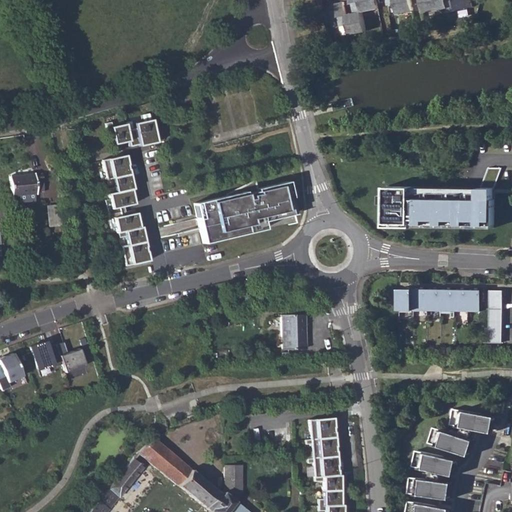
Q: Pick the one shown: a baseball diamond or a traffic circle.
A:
traffic circle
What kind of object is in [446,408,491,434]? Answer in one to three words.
house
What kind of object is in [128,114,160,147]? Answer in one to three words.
building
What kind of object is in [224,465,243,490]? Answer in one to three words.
shed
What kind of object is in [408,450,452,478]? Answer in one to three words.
house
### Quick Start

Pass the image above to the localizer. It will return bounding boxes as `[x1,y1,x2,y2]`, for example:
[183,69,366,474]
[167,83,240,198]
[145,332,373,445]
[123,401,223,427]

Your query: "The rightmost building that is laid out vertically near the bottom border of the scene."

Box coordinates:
[304,418,346,512]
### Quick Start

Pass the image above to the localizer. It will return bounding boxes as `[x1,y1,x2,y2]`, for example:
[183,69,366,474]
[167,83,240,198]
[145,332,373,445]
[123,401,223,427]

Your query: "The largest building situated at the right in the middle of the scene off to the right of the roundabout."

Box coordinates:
[373,188,494,230]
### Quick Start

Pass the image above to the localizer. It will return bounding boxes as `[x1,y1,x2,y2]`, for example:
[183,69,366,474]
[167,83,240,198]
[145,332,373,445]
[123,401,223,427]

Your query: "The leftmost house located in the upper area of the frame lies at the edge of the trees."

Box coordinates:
[12,168,40,203]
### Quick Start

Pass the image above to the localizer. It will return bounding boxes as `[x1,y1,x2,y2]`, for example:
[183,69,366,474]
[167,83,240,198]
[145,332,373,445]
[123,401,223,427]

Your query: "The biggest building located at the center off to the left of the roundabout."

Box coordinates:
[193,182,300,244]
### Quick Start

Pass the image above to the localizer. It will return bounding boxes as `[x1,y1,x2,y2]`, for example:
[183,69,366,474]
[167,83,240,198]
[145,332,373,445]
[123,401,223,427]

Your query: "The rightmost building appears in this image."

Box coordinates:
[486,290,502,343]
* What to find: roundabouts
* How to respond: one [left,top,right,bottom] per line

[294,213,368,288]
